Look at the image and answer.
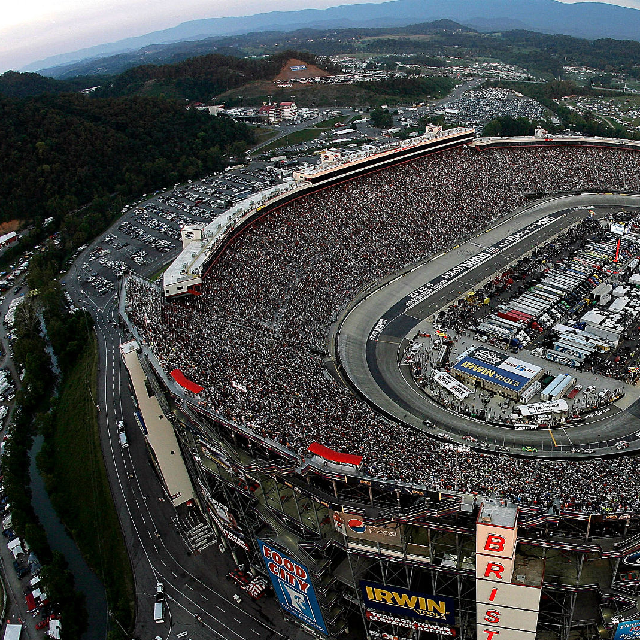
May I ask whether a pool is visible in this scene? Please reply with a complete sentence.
No, no pool can be seen from above.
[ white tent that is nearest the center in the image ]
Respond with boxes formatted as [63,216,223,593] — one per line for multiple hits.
[433,373,475,406]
